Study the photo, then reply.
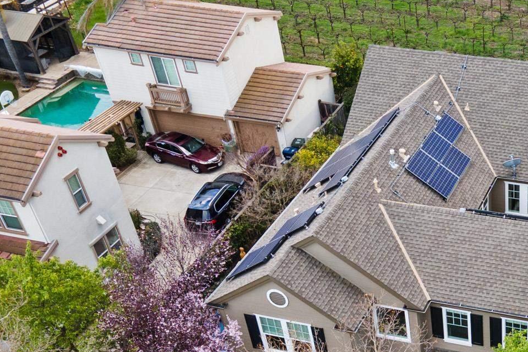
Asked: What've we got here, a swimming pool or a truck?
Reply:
swimming pool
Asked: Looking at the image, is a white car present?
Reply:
No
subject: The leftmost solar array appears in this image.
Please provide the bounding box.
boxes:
[228,201,323,279]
